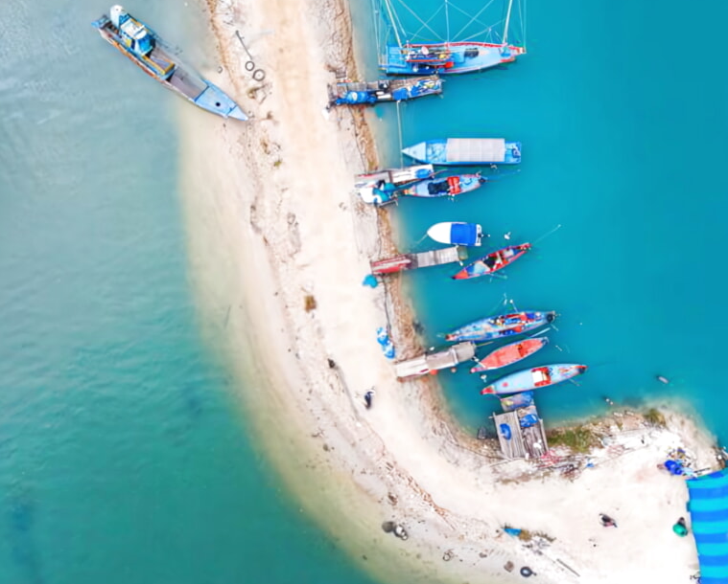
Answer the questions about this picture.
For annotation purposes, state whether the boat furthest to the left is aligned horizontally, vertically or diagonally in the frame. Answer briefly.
diagonally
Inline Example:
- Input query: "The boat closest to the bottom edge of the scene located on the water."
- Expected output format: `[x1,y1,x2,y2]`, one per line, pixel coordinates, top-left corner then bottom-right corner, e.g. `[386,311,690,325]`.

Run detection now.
[481,364,591,394]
